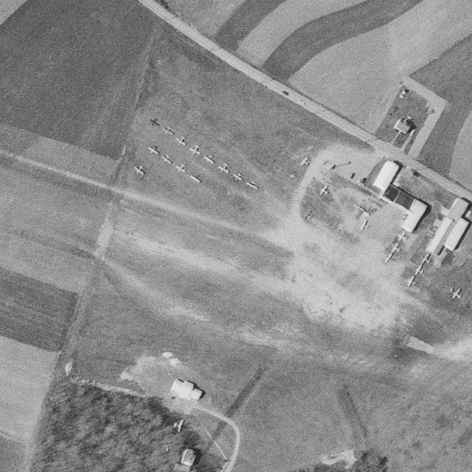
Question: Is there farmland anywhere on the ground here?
Yes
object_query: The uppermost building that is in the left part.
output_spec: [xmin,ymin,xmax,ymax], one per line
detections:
[170,380,202,400]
